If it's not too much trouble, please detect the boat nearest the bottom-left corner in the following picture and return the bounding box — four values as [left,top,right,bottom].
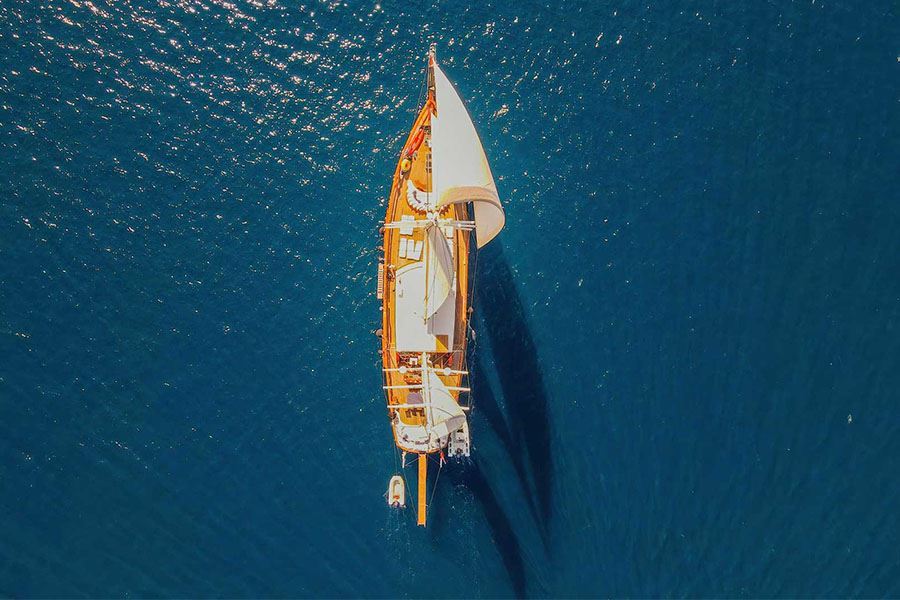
[386,475,405,510]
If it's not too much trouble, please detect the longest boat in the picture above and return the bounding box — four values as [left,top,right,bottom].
[378,40,504,528]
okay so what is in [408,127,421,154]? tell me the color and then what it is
red boat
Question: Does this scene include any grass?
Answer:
No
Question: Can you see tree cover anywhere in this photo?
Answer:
No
